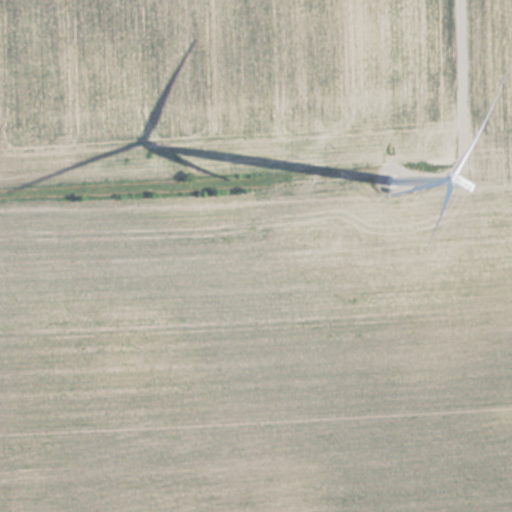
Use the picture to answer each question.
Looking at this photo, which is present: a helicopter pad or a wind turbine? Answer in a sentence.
The image shows a wind turbine.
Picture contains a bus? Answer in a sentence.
No, I find no bus anywhere in the image.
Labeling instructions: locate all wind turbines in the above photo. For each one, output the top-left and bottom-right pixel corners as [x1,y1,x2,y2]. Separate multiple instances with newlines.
[383,77,506,240]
